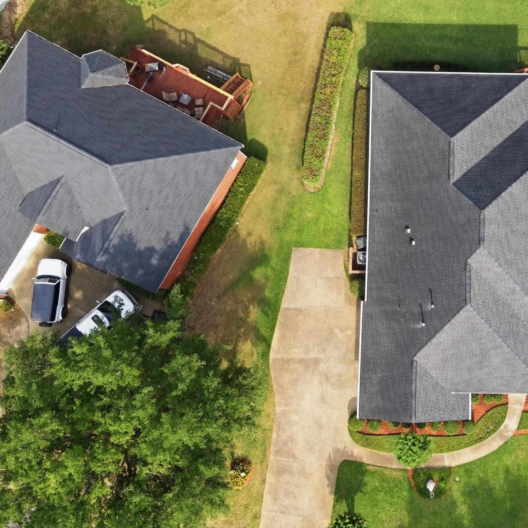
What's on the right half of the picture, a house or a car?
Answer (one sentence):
The one visible on the right half of the picture is a house.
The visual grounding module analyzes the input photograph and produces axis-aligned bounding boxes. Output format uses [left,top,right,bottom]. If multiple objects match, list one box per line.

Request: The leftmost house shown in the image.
[0,30,252,297]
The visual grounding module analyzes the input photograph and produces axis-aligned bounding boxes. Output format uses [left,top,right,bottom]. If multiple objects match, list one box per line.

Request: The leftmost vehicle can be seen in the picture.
[32,254,73,324]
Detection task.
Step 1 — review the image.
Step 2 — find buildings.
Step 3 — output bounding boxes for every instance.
[356,70,528,423]
[0,30,252,297]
